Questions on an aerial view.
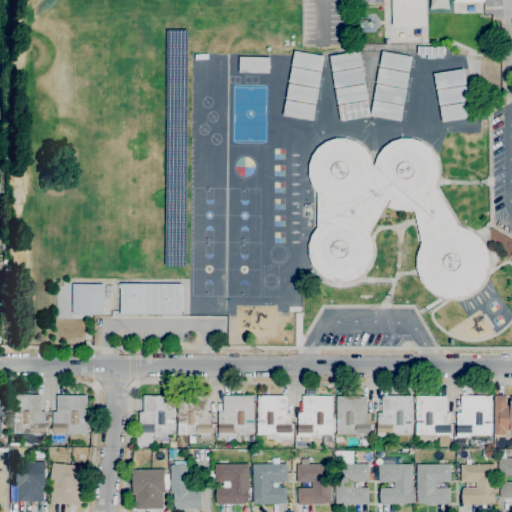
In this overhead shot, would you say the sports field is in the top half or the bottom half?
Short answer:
top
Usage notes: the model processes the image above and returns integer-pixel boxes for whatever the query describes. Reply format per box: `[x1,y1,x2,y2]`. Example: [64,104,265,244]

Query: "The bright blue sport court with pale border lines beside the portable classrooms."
[234,85,268,144]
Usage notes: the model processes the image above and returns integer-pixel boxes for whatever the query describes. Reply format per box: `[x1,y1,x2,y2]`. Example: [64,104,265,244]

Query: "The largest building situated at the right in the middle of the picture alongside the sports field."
[308,137,490,299]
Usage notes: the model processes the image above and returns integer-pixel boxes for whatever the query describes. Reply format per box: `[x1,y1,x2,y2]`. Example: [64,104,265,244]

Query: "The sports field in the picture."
[0,0,304,346]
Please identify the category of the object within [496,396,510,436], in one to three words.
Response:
house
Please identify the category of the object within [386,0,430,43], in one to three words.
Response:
building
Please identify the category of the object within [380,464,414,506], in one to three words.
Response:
house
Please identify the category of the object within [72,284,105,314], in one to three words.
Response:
building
